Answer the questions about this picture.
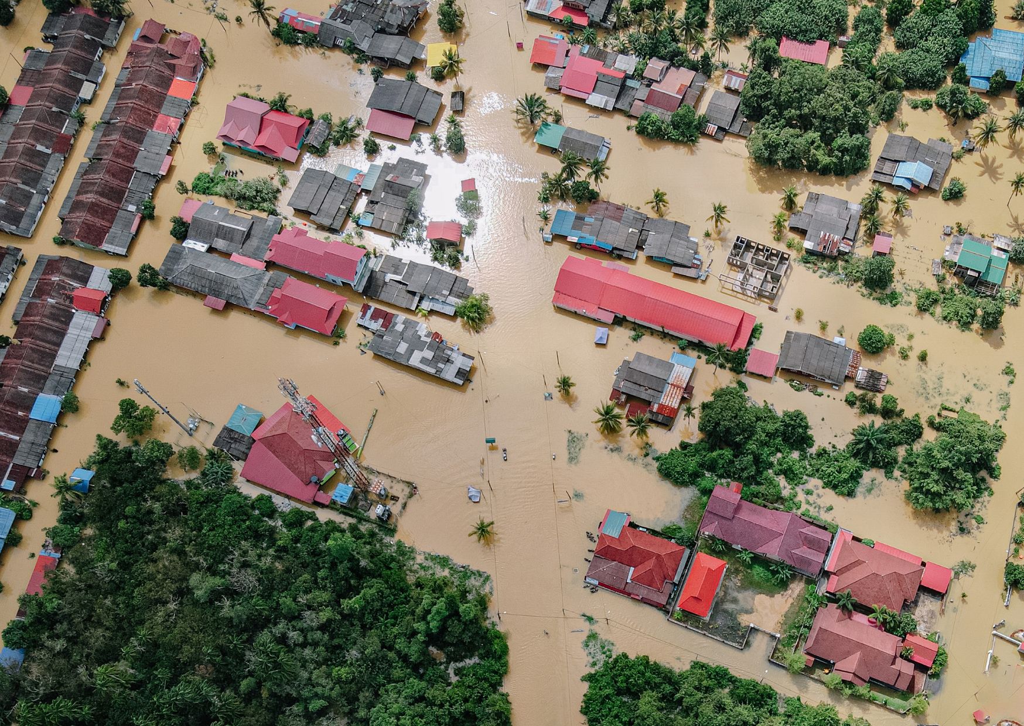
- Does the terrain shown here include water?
Yes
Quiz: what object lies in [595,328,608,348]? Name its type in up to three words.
gazebo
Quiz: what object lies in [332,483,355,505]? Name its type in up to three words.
building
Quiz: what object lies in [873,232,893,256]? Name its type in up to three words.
shed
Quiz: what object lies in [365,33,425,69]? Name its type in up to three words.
house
